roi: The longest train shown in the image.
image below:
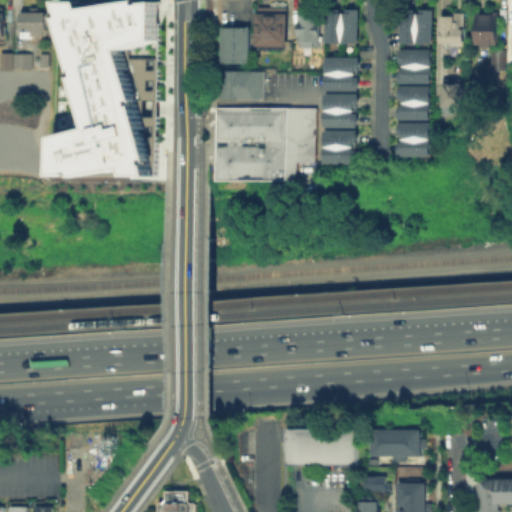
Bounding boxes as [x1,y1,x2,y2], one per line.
[70,316,162,328]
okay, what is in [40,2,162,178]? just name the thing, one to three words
building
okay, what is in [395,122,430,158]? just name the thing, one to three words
house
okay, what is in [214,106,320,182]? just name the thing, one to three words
building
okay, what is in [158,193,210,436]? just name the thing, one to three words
bridge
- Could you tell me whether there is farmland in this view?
No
